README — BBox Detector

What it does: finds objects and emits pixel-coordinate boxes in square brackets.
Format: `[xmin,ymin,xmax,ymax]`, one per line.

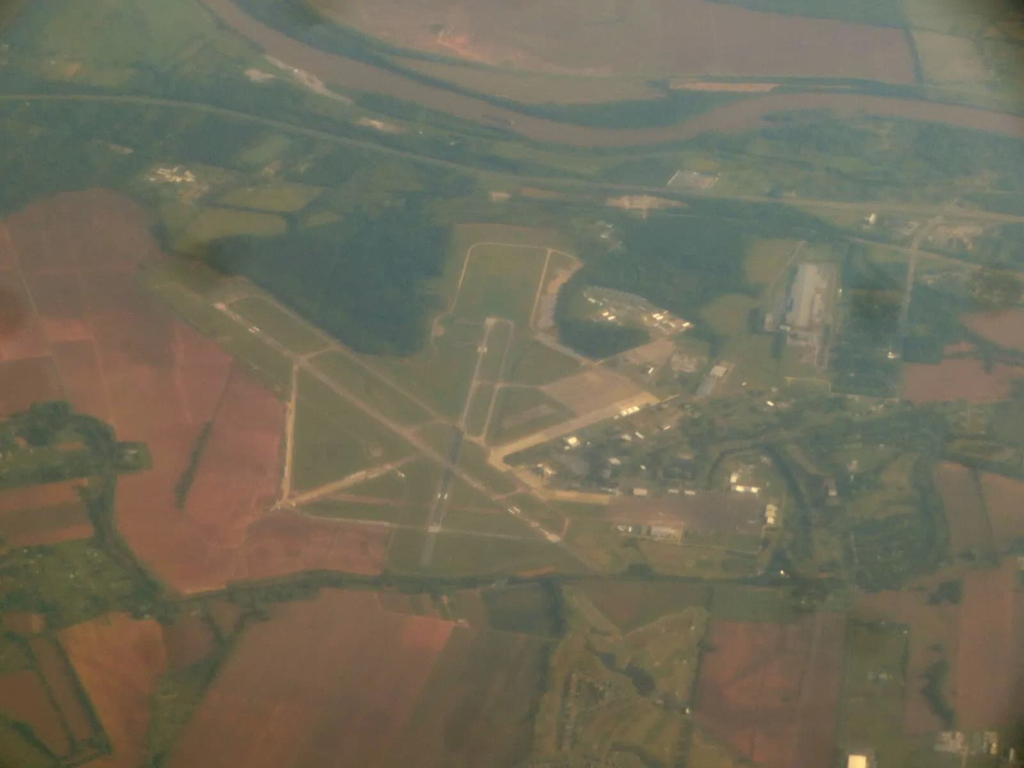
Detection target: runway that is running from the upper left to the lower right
[220,305,563,540]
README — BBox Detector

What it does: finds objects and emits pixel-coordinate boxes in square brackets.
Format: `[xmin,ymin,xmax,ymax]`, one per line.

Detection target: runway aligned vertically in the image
[429,319,494,531]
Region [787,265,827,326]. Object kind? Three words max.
building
